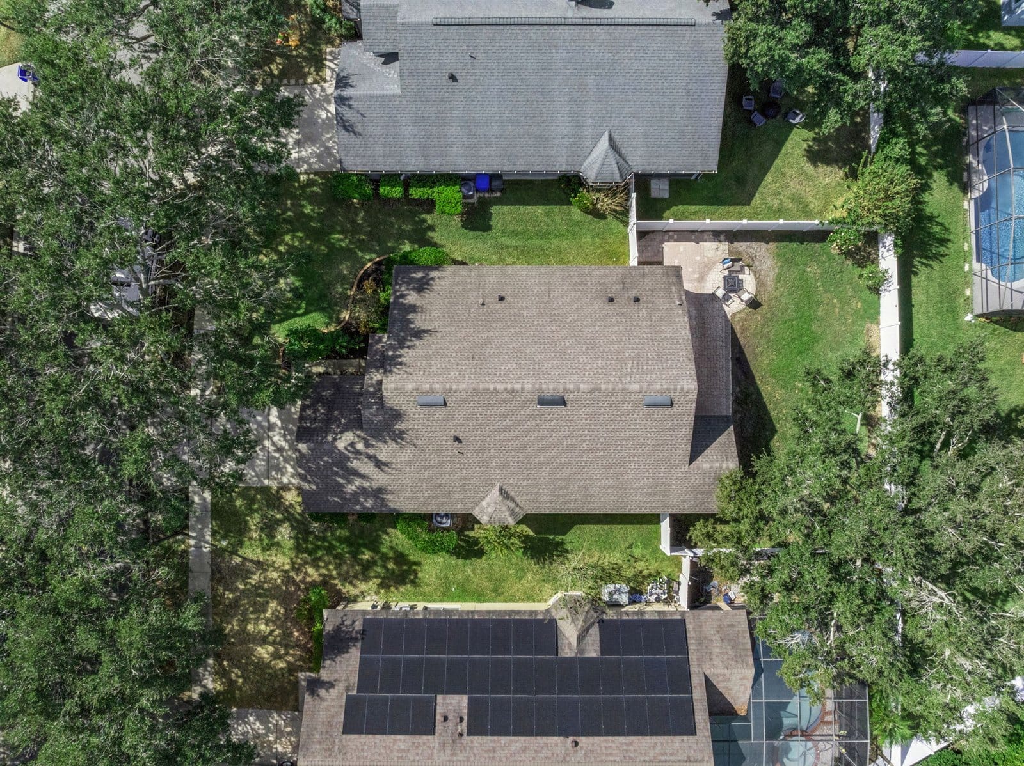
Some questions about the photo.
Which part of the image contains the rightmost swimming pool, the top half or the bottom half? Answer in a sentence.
Seen from above, the rightmost swimming pool lies in the top half of the view.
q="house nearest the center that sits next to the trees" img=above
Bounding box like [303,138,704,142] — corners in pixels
[295,267,739,525]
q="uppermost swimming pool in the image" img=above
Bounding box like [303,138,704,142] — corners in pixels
[973,124,1024,285]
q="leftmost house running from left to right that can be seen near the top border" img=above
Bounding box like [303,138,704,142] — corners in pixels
[335,0,732,192]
